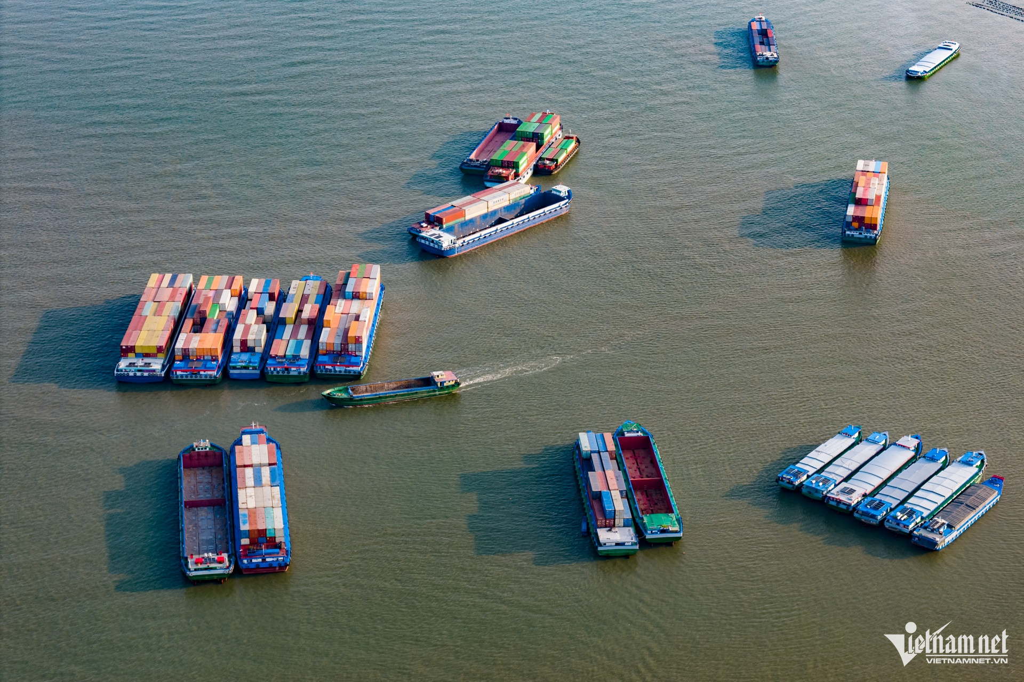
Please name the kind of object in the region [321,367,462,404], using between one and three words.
boat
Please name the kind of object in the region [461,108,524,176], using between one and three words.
ship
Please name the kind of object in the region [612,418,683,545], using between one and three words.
ship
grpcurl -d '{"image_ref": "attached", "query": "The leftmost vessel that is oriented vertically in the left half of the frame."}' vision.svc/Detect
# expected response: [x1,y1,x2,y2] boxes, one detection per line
[177,432,237,587]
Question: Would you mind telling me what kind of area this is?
port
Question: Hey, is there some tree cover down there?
No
